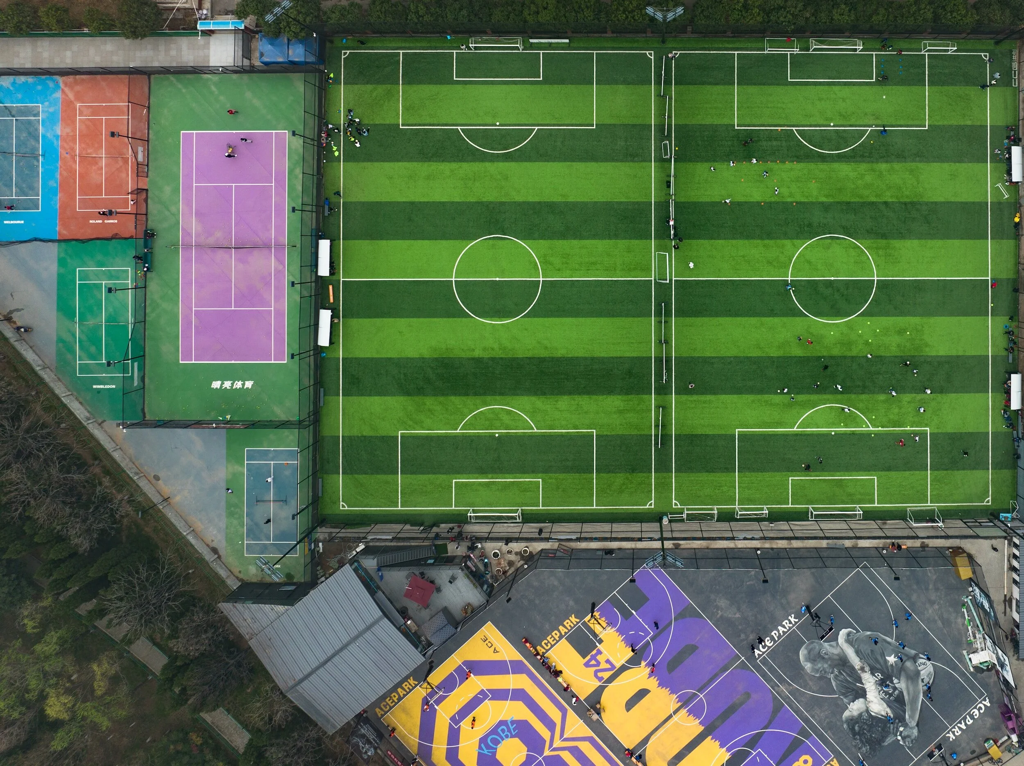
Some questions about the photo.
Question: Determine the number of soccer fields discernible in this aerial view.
2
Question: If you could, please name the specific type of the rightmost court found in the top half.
tennis court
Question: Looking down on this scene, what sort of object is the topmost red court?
tennis court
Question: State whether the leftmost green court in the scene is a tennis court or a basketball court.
tennis court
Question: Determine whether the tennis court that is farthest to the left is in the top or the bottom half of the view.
top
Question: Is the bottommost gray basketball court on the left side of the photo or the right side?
right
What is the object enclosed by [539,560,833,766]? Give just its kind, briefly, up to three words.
basketball court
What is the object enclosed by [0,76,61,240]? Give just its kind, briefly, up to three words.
tennis court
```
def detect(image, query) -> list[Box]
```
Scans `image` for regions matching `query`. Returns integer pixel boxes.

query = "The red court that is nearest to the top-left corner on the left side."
[58,75,150,239]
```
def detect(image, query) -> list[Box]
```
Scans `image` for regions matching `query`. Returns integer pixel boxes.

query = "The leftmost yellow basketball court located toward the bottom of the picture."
[378,622,620,766]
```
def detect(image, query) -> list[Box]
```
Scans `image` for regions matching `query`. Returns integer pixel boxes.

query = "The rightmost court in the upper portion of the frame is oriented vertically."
[145,74,316,420]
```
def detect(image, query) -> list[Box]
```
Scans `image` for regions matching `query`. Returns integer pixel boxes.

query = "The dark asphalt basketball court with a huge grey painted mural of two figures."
[756,563,987,766]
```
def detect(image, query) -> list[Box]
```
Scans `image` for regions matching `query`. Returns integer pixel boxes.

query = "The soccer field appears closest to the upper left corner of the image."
[319,37,663,523]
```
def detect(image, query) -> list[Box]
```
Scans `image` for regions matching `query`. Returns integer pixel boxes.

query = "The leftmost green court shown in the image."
[56,240,147,421]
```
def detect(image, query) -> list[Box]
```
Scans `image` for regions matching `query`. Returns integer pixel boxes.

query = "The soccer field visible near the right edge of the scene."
[663,38,1018,521]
